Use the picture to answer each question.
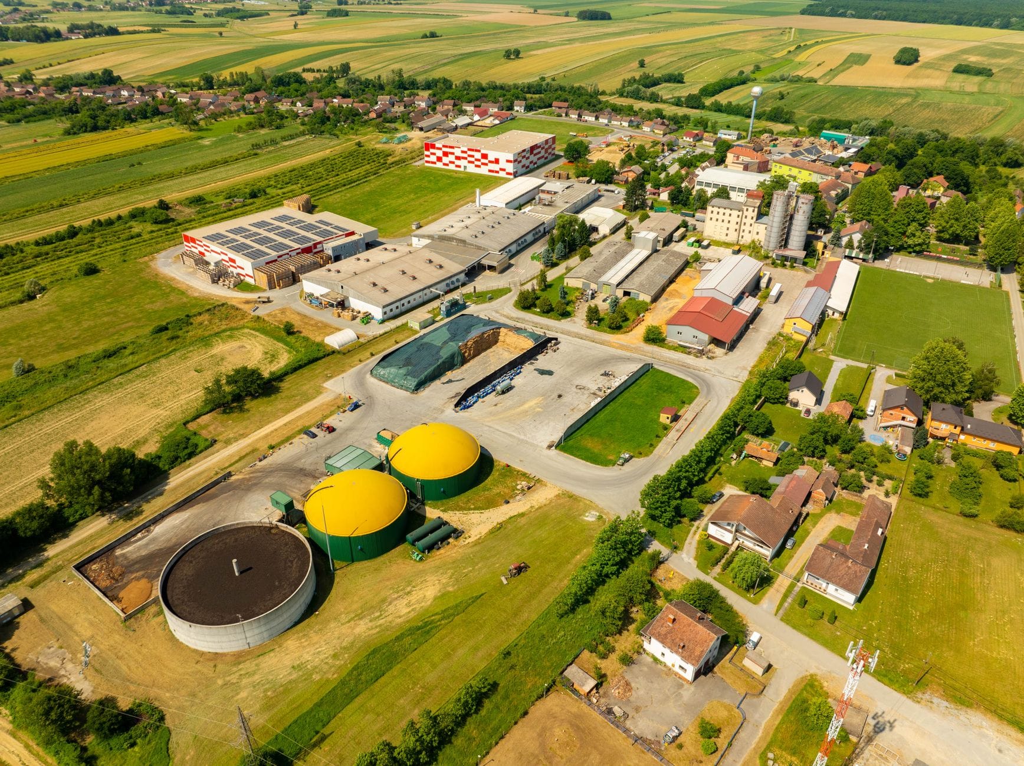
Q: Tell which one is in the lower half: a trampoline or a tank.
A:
tank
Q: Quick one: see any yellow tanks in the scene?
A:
Yes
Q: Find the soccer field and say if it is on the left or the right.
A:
right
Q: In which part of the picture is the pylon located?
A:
bottom left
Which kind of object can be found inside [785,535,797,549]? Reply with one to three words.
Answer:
vehicle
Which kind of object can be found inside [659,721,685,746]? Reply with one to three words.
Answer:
car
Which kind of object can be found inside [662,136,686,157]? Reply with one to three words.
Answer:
house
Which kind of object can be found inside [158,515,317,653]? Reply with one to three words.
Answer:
storage tank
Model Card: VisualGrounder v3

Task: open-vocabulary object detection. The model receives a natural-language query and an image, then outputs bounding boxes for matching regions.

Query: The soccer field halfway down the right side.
[832,264,1024,396]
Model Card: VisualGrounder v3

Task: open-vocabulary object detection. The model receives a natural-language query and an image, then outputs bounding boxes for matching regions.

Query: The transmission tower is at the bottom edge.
[222,707,260,766]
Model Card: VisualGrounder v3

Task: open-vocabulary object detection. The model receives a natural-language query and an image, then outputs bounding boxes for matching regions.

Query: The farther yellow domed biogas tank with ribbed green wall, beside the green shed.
[388,422,482,503]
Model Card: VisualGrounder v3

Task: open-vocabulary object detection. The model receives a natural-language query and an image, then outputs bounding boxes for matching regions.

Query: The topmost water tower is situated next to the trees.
[747,85,764,140]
